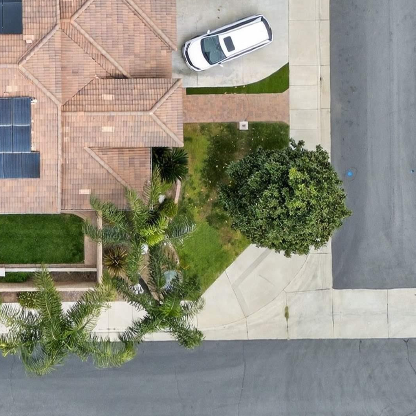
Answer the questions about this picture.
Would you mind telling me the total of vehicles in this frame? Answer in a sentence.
The picture shows just 1 vehicle.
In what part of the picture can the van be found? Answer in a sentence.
The van appears toward the top of the photo.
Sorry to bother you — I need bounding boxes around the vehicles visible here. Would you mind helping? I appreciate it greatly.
[178,13,272,72]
